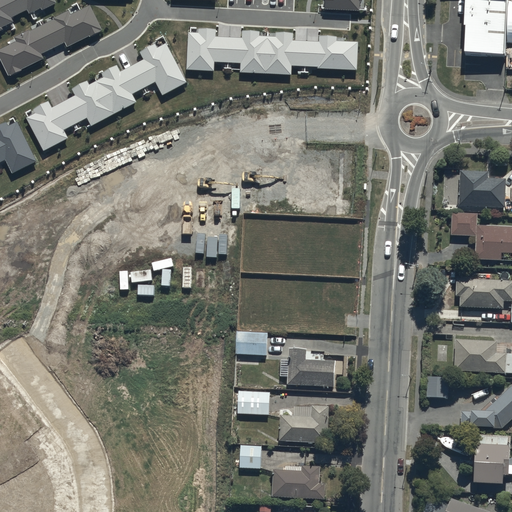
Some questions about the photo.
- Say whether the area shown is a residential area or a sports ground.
residential area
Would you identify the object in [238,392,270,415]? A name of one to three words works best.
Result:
shed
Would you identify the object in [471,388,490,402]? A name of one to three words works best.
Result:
vehicle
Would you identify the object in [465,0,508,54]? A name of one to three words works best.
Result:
building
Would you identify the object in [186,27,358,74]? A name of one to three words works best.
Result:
house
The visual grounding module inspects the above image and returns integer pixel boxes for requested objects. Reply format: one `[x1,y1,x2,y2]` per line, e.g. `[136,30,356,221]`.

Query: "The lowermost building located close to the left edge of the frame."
[0,120,34,174]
